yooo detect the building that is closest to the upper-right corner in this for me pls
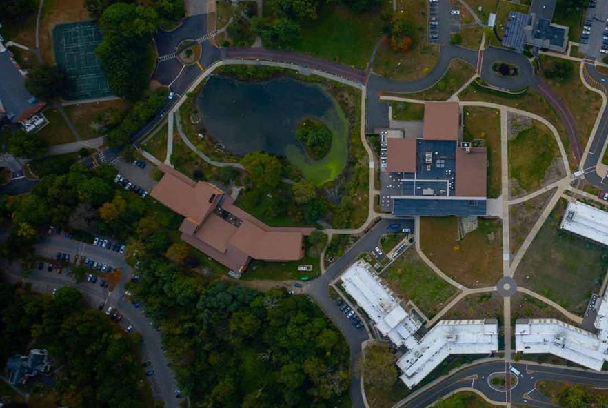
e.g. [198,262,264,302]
[502,0,569,53]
